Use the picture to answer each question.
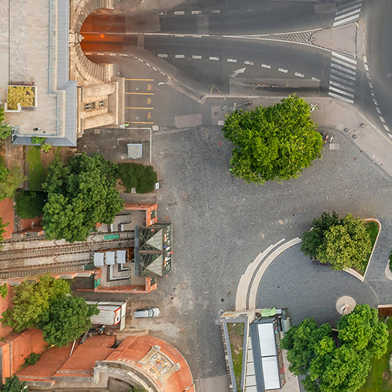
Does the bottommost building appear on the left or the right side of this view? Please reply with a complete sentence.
The bottommost building is on the right side of the image.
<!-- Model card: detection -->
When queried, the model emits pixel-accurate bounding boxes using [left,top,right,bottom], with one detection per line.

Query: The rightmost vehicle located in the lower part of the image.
[132,305,163,320]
